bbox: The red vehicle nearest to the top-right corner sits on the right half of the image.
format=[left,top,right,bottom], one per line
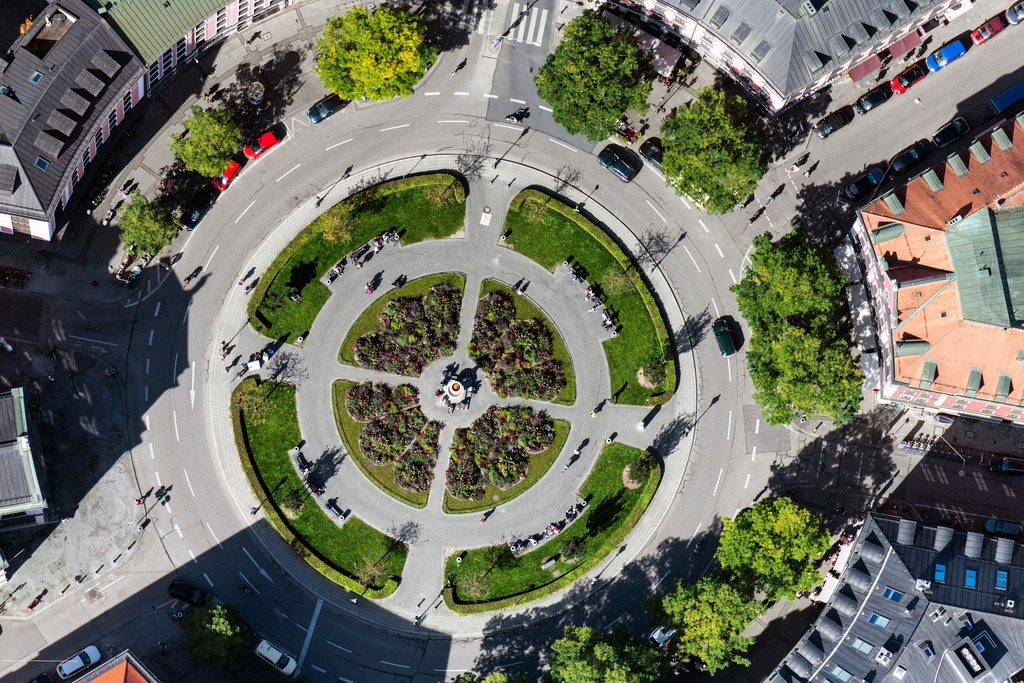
[971,14,1007,42]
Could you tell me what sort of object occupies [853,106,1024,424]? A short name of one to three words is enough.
building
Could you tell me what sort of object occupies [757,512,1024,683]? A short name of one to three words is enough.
building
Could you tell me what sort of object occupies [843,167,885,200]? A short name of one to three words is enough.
car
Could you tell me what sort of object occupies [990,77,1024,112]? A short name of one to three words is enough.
van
